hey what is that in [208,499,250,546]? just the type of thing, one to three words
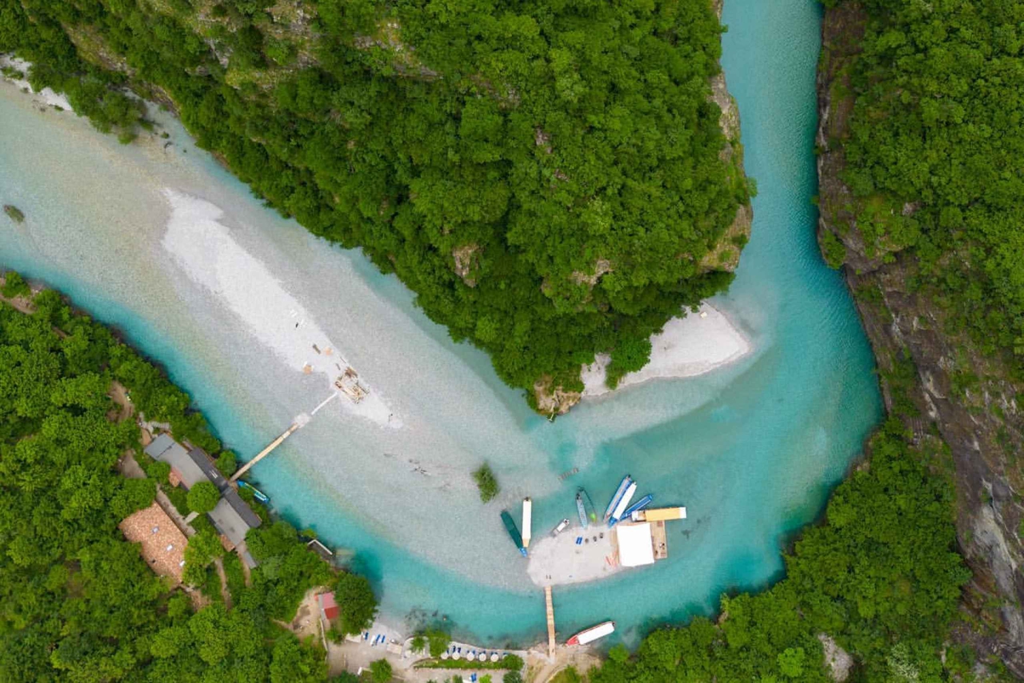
building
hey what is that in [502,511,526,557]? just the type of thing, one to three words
boat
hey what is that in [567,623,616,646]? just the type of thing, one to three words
boat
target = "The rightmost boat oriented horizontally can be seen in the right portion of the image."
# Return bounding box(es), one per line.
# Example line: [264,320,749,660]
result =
[631,508,687,523]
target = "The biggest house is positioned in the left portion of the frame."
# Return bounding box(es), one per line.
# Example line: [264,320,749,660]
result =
[119,501,192,582]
